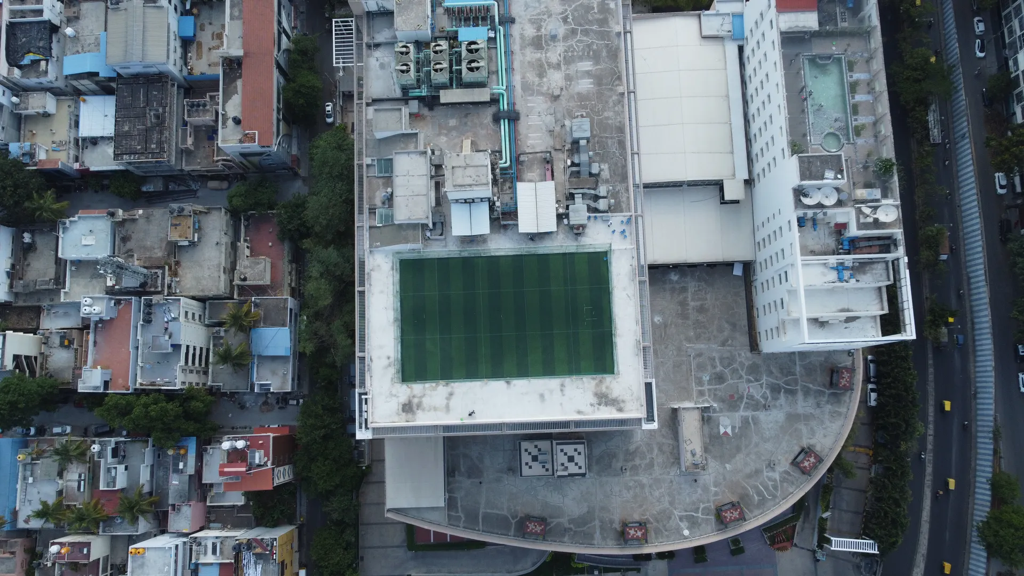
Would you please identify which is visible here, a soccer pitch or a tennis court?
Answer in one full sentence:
I can see a soccer pitch in this picture.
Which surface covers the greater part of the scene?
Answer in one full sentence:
The bulk of the photo consists of buildings.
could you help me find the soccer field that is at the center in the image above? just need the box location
[400,251,615,382]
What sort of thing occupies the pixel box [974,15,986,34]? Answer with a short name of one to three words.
vehicle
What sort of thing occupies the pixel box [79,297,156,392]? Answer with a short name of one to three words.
house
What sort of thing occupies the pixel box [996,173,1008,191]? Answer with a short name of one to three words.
vehicle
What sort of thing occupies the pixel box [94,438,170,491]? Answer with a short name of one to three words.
house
